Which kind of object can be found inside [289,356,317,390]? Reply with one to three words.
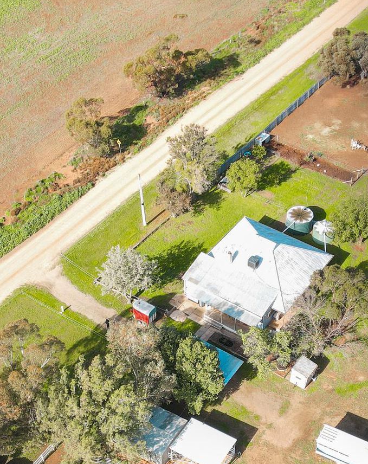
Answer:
shed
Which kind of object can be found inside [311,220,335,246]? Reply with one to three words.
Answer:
water tank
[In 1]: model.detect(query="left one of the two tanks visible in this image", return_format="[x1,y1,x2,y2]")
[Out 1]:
[286,206,313,235]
